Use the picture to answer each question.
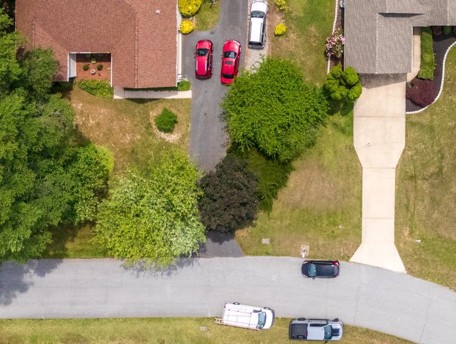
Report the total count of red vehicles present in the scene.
2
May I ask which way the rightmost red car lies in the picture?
up and down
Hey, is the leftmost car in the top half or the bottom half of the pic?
top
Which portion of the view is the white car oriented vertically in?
top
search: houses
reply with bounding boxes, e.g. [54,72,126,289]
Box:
[343,0,456,74]
[15,0,182,88]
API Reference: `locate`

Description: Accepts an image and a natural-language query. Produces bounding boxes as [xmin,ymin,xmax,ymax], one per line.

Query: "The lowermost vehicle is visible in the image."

[287,318,342,344]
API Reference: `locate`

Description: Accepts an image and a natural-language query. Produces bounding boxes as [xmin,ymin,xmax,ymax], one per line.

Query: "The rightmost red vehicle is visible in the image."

[220,39,241,85]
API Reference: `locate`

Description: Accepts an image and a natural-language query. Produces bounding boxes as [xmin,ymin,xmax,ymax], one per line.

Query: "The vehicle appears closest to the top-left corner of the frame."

[193,38,216,79]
